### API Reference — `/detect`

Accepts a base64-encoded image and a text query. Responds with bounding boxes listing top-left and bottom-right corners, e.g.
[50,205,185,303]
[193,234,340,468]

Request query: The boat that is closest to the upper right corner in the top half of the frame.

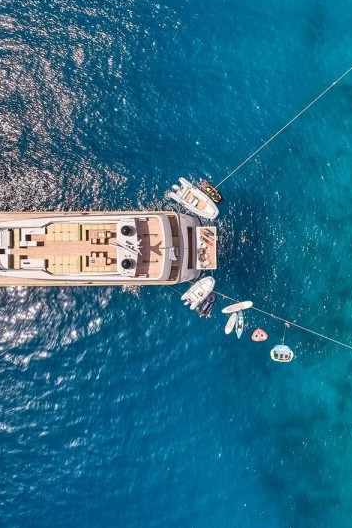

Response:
[199,180,222,200]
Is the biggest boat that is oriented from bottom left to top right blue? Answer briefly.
No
